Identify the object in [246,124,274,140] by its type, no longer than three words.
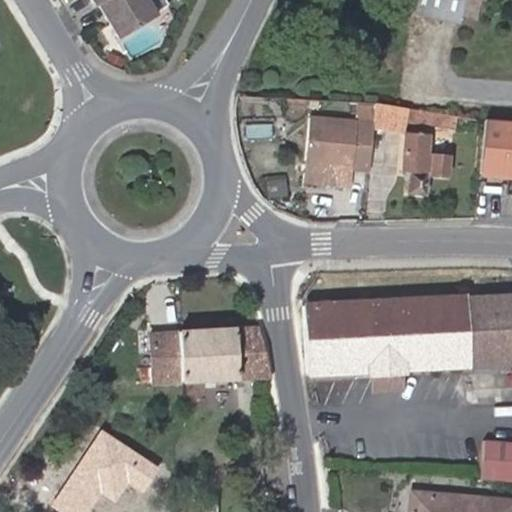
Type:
swimming pool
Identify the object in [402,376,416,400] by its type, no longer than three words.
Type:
car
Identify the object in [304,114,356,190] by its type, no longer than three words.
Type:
house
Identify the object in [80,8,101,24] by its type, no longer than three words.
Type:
car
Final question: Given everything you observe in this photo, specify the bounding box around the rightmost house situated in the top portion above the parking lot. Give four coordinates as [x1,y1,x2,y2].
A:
[482,118,512,184]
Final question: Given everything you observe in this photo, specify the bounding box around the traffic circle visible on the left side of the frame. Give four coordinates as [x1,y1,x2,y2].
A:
[64,101,222,259]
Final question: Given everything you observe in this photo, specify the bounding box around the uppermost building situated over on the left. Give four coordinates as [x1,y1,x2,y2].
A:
[89,0,160,39]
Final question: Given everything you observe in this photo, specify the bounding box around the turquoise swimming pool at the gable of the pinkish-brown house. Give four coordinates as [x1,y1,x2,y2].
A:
[124,25,166,58]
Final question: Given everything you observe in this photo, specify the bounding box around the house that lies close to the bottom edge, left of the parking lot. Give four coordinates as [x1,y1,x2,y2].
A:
[46,430,159,512]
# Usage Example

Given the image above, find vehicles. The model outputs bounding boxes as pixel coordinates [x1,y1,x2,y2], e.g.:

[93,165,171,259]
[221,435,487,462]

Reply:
[80,8,101,24]
[288,484,297,505]
[496,406,512,417]
[316,204,326,218]
[82,271,94,293]
[312,194,333,204]
[164,298,175,324]
[466,438,476,460]
[69,0,91,12]
[350,184,361,205]
[355,438,365,459]
[477,194,488,216]
[491,194,502,216]
[402,376,416,400]
[483,184,504,195]
[317,412,340,424]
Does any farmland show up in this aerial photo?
No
